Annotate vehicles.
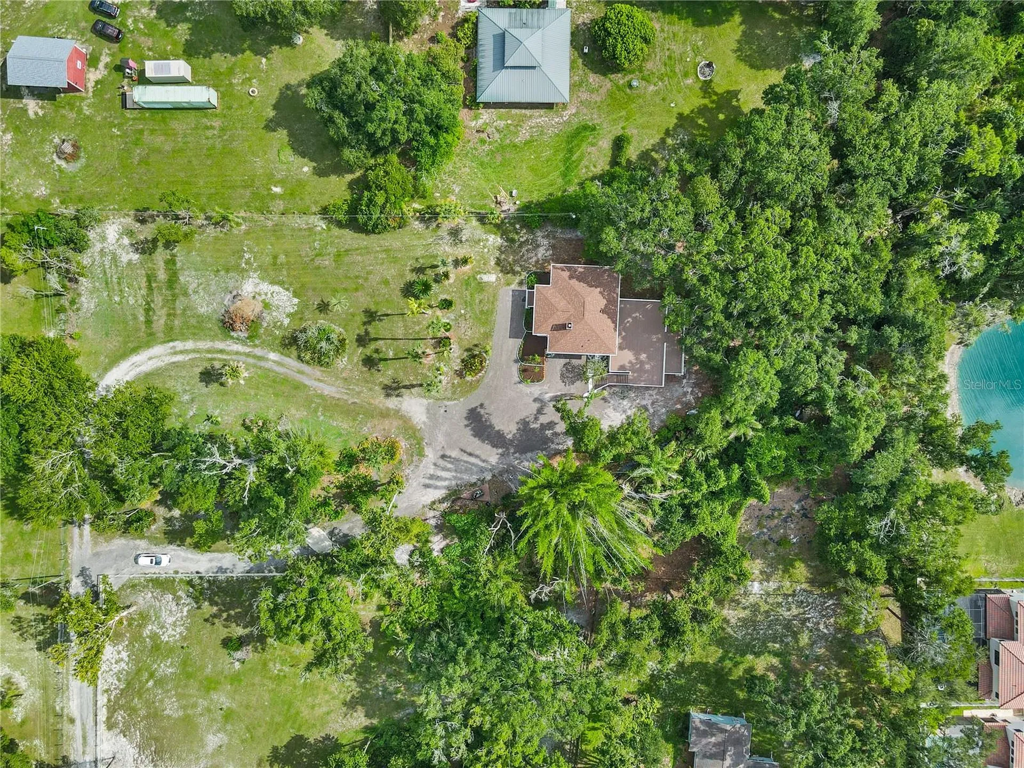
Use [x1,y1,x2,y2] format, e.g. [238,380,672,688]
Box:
[89,0,123,20]
[92,21,127,44]
[135,552,172,567]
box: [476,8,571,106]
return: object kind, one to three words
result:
house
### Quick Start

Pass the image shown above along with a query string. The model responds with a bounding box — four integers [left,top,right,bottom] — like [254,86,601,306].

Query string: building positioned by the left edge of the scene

[7,40,87,96]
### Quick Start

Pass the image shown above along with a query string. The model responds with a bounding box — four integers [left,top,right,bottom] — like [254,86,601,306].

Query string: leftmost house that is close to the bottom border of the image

[684,708,778,768]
